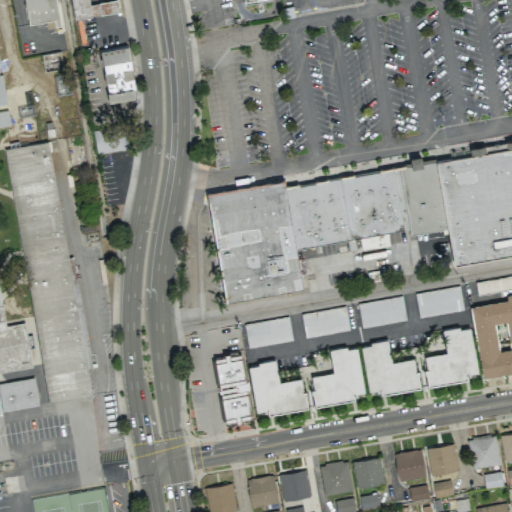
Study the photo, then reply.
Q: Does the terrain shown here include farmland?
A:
No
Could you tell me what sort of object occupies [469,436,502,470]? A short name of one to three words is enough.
house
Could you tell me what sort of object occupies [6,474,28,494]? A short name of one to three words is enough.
shed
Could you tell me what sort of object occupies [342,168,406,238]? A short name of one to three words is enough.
building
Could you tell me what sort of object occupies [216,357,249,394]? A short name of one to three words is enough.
building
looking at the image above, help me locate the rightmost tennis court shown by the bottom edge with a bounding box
[69,489,108,512]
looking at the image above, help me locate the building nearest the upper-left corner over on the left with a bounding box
[28,0,64,34]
